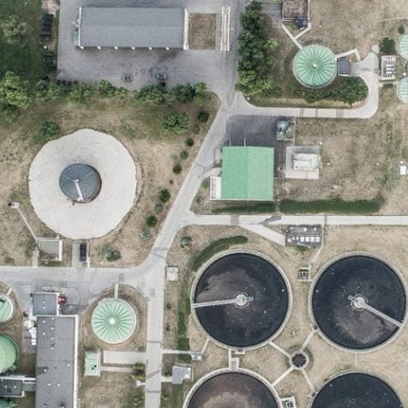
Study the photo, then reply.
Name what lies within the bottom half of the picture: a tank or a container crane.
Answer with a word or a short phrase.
tank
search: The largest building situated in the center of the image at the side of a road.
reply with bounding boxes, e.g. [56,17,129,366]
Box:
[210,146,273,201]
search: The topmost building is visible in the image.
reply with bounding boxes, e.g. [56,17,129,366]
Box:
[282,0,309,20]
